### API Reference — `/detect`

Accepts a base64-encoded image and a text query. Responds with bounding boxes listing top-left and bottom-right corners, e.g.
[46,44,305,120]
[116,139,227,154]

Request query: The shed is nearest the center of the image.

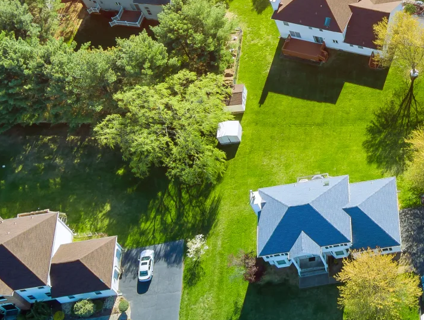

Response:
[215,117,241,144]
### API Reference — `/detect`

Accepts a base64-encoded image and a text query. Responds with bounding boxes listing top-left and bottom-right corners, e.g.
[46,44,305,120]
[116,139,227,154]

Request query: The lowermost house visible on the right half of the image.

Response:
[246,174,400,281]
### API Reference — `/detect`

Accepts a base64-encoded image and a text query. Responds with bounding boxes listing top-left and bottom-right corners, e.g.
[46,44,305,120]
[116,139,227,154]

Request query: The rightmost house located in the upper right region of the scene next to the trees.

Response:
[270,0,404,74]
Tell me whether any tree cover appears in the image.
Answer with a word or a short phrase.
Yes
